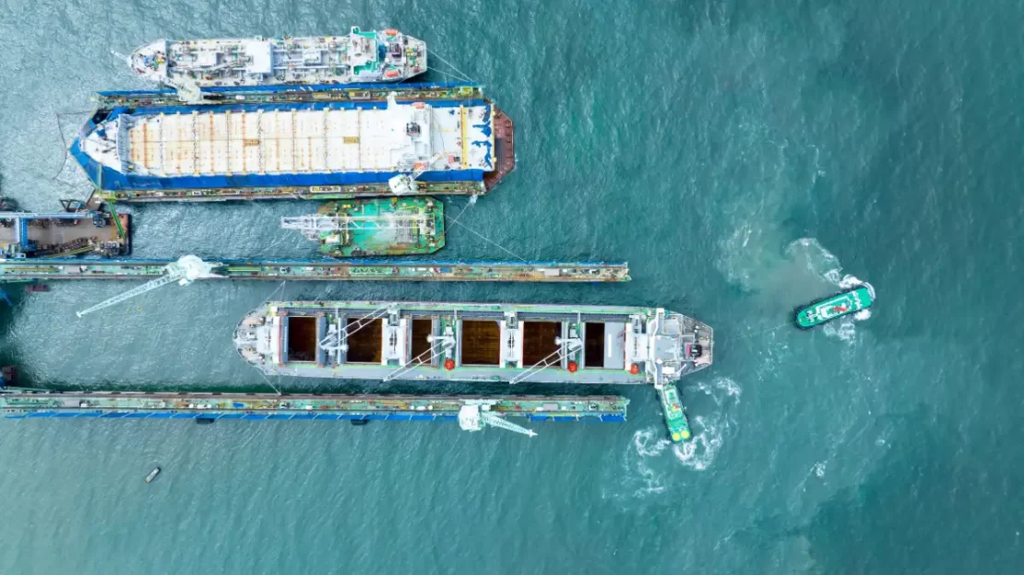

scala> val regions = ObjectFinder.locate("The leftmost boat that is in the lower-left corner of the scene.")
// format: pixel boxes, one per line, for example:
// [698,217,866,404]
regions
[142,467,160,485]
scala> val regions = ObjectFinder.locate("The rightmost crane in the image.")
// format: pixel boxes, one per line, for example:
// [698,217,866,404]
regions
[459,394,536,439]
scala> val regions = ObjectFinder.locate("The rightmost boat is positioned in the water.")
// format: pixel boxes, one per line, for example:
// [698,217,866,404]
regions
[798,286,876,327]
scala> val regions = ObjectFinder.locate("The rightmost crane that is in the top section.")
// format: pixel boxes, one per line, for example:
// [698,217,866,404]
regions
[390,150,444,199]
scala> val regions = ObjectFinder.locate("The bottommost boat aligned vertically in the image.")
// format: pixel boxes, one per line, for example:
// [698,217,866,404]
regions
[660,381,692,445]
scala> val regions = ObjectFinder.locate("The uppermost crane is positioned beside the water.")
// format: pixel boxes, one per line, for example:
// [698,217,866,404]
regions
[156,69,226,108]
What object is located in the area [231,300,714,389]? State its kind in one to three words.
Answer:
ship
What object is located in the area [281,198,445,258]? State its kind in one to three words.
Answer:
ship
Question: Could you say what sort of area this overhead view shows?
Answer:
port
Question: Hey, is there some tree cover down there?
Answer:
No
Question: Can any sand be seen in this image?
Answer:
No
